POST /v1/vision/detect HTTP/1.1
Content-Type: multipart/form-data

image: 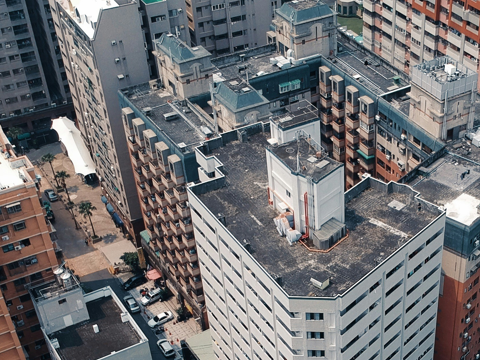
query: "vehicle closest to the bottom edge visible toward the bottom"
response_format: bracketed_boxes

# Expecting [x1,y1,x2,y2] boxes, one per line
[156,337,177,360]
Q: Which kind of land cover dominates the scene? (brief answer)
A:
buildings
